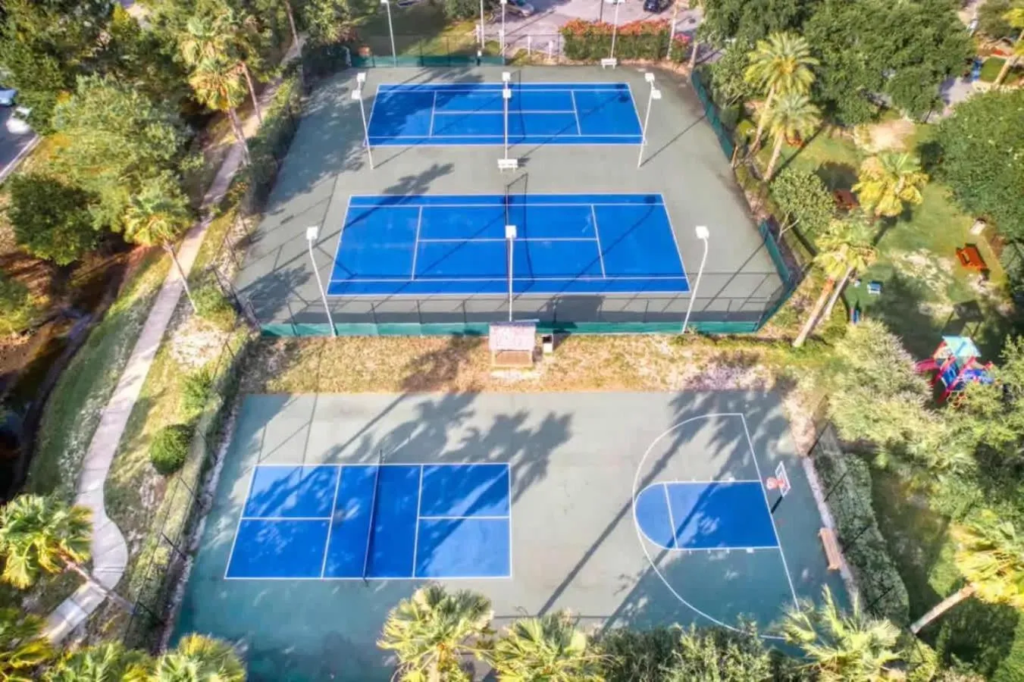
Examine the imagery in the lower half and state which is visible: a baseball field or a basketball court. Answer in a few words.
basketball court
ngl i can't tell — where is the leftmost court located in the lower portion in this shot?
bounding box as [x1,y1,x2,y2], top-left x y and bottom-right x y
[222,448,512,586]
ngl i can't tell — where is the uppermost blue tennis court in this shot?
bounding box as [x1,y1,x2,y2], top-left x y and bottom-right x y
[363,67,646,146]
